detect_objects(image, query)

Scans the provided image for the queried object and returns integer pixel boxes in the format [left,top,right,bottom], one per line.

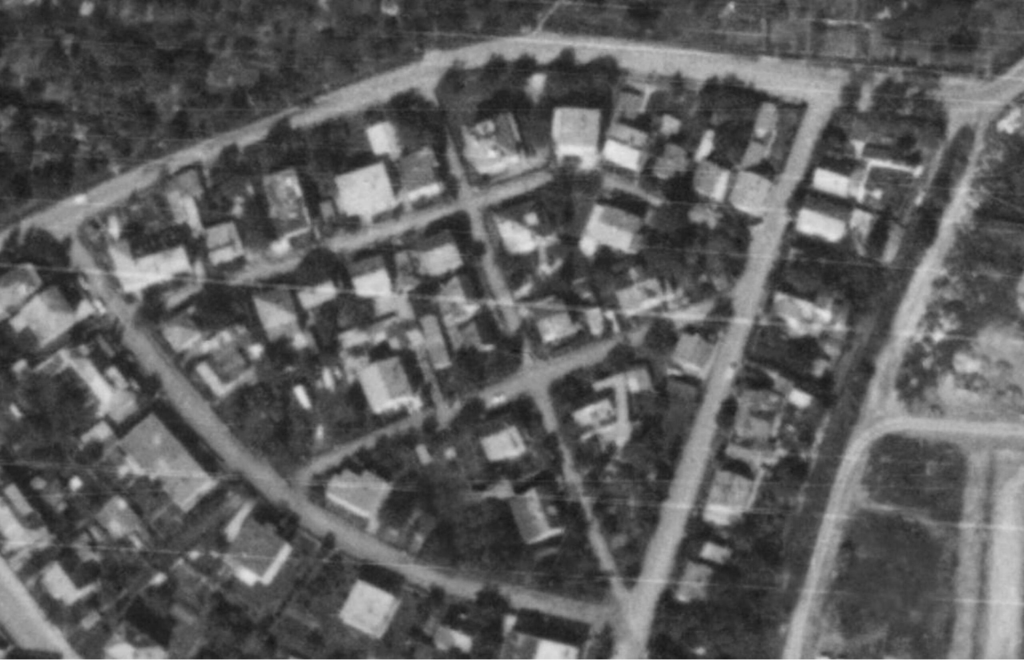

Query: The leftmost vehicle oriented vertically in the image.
[108,216,120,239]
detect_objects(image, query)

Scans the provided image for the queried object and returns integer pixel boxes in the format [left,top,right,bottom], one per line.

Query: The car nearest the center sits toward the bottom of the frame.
[491,393,509,405]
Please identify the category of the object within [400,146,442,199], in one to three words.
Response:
house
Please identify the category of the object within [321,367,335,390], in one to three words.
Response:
vehicle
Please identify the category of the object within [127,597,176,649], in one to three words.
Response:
shed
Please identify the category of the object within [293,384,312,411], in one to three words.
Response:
vehicle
